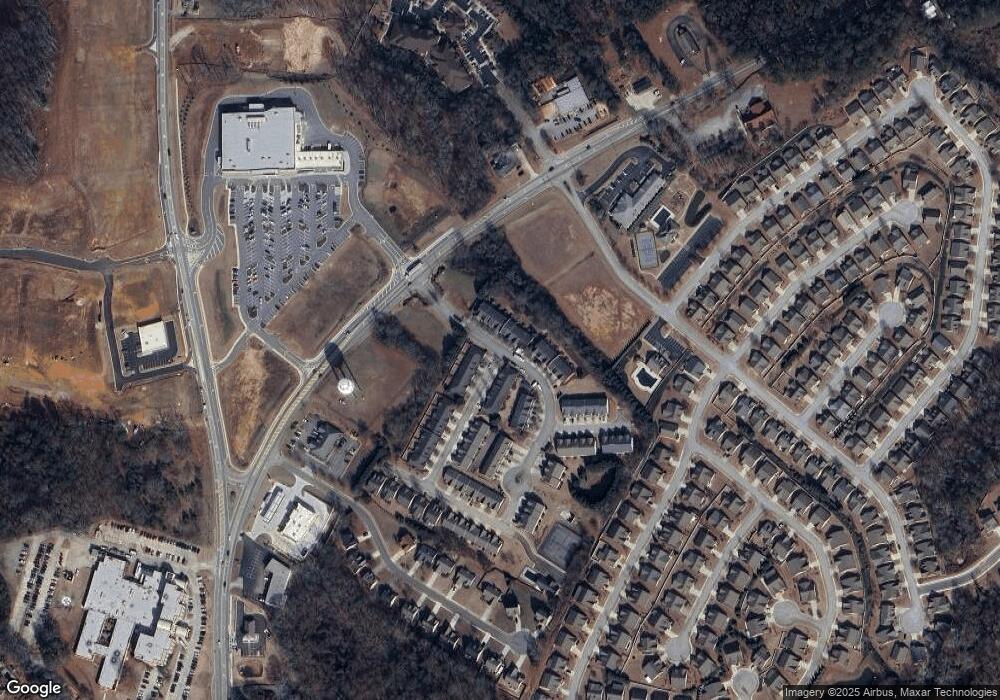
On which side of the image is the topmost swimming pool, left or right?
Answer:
right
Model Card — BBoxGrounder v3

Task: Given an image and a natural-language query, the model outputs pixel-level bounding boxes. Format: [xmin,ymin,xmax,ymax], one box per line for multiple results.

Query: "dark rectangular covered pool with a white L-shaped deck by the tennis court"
[650,205,675,229]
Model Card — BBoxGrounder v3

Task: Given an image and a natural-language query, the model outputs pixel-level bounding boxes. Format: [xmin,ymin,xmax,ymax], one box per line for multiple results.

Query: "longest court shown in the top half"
[635,231,658,268]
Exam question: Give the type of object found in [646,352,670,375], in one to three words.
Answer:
building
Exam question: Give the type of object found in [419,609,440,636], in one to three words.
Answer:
house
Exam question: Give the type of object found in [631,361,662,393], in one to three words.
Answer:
swimming pool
